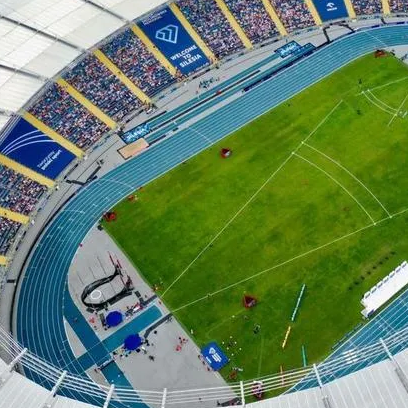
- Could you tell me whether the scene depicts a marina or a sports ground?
sports ground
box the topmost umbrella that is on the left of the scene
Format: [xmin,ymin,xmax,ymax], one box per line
[103,310,123,327]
